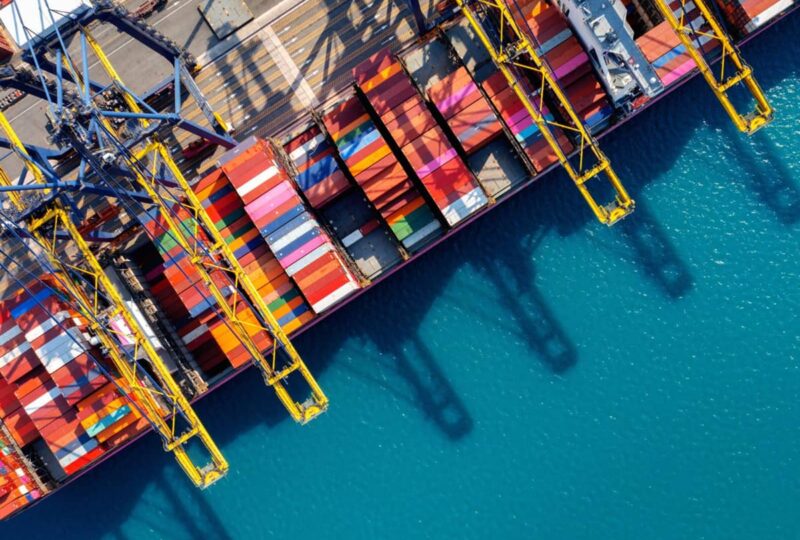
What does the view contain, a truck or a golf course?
truck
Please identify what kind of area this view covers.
port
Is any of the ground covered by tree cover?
No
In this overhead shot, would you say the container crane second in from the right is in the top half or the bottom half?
top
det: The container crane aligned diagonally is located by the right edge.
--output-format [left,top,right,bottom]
[660,0,780,134]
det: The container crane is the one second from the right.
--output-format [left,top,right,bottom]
[389,0,639,225]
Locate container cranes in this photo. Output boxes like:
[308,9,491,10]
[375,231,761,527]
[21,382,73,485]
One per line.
[660,0,780,134]
[0,77,230,492]
[0,0,329,427]
[389,0,639,225]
